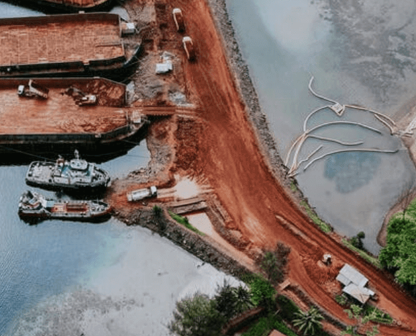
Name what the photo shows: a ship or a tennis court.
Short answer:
ship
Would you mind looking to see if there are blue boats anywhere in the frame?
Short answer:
No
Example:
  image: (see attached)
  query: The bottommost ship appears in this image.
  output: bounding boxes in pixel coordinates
[18,195,112,225]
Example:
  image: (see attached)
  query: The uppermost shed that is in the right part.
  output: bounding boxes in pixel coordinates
[336,264,368,288]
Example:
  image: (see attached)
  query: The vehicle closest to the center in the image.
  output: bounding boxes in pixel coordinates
[128,182,158,200]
